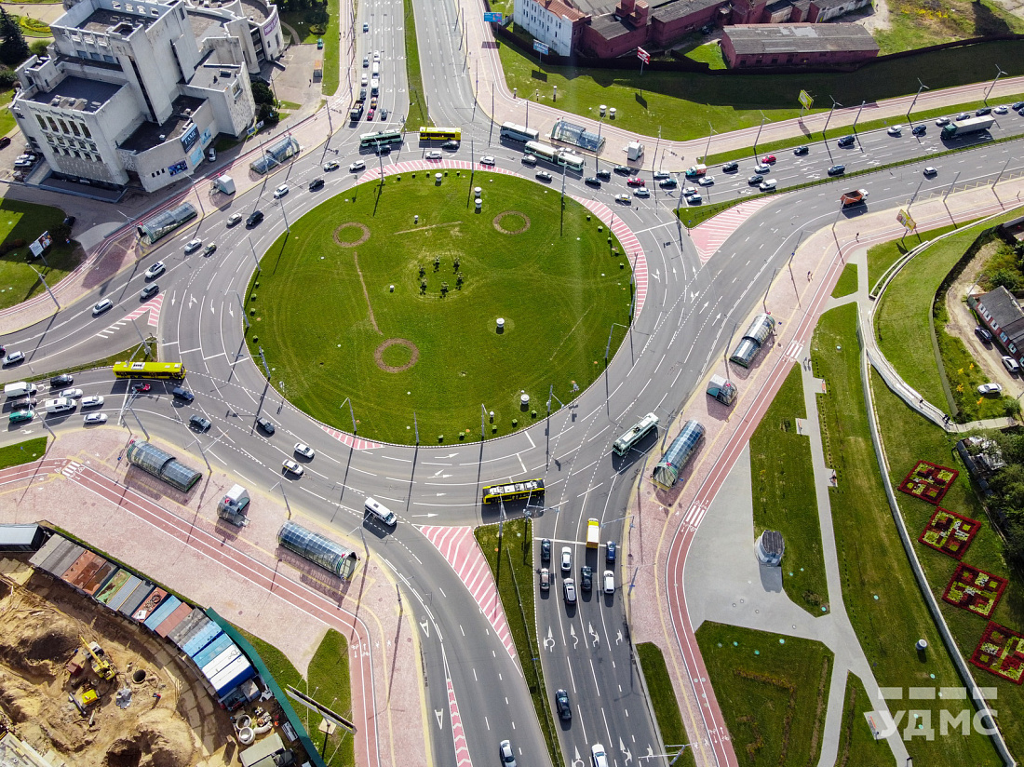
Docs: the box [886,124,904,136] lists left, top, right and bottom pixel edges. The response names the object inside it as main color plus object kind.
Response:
white vehicle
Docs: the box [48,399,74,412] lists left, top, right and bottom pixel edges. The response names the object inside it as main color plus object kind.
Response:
white vehicle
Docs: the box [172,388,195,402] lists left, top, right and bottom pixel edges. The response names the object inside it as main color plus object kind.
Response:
blue car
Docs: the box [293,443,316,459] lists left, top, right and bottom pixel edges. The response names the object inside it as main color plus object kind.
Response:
white car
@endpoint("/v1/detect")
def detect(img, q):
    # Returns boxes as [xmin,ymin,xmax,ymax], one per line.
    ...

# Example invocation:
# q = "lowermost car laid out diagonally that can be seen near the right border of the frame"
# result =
[999,356,1021,373]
